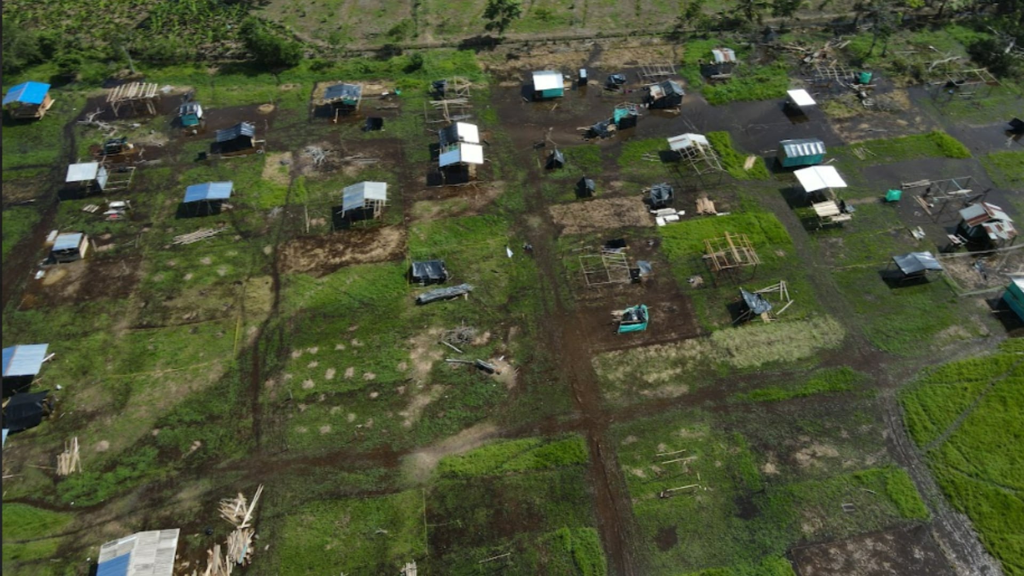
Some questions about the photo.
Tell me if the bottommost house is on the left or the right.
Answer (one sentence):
You can find the bottommost house on the left side of the picture.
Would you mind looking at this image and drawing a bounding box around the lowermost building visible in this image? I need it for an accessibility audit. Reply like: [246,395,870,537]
[97,531,179,576]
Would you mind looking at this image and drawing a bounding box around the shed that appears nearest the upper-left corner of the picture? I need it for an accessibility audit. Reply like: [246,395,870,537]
[3,81,56,118]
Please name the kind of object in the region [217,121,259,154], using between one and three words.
shed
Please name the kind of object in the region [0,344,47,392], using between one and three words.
house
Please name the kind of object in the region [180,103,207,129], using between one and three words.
shed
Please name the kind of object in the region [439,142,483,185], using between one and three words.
house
